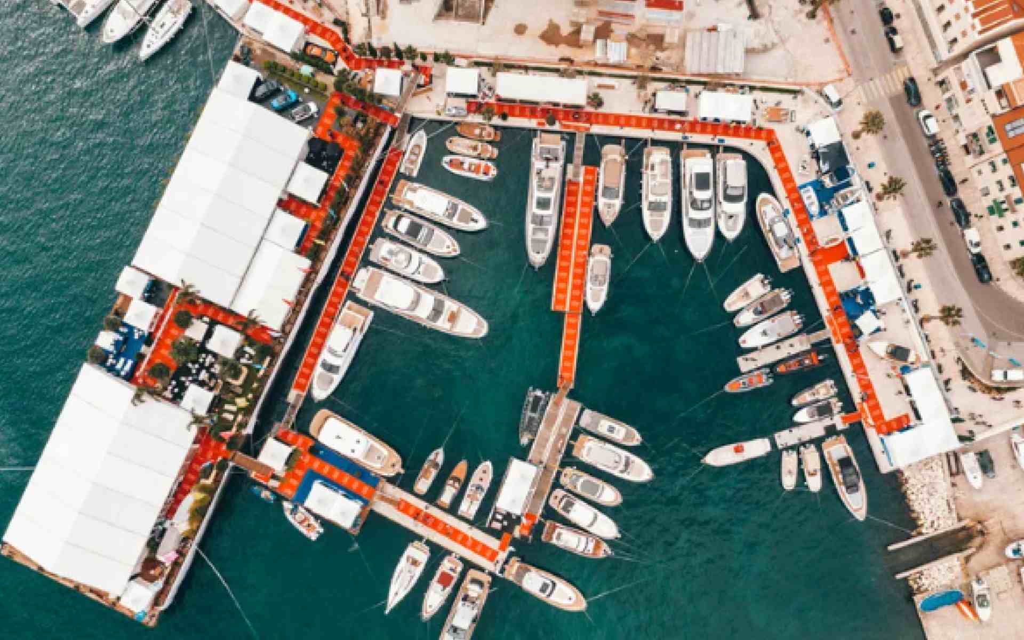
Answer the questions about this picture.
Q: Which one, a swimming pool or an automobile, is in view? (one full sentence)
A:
There is an automobile in the scene.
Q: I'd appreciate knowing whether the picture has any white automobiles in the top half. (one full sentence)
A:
Yes, in the top half there is a white automobile.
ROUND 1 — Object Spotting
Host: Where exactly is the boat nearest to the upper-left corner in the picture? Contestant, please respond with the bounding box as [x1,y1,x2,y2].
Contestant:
[77,0,116,27]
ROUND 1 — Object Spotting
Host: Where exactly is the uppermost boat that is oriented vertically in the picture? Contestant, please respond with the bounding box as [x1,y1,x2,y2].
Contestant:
[402,130,427,179]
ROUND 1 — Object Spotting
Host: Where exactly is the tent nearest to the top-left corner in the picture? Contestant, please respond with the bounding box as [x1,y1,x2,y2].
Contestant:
[201,0,250,35]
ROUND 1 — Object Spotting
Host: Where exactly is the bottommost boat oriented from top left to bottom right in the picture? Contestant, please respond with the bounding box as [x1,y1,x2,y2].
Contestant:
[955,599,976,621]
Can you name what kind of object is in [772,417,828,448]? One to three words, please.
pier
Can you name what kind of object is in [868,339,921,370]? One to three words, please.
boat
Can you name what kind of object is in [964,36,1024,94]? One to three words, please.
house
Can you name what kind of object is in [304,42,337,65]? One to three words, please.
car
